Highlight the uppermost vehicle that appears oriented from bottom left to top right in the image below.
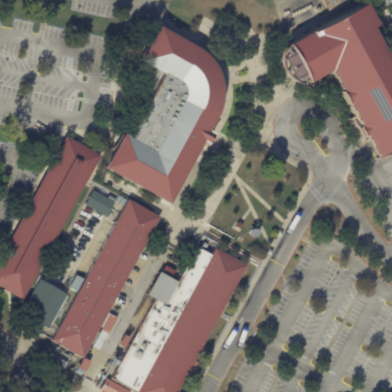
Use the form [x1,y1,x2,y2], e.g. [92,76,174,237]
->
[285,210,302,234]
